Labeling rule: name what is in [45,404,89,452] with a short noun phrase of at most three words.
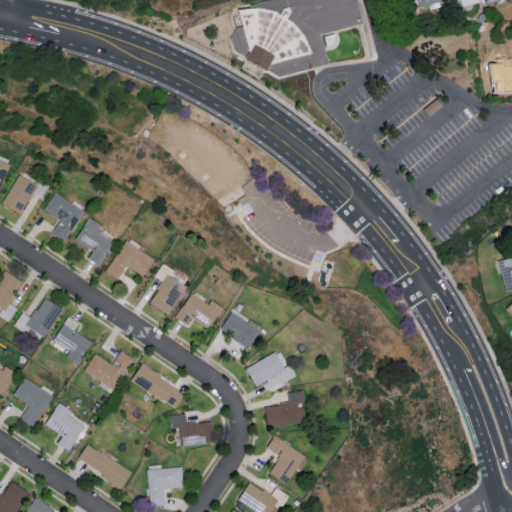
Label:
house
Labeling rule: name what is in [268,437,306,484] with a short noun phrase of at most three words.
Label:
house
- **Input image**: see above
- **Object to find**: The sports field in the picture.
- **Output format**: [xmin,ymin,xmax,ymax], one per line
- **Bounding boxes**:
[148,112,252,207]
